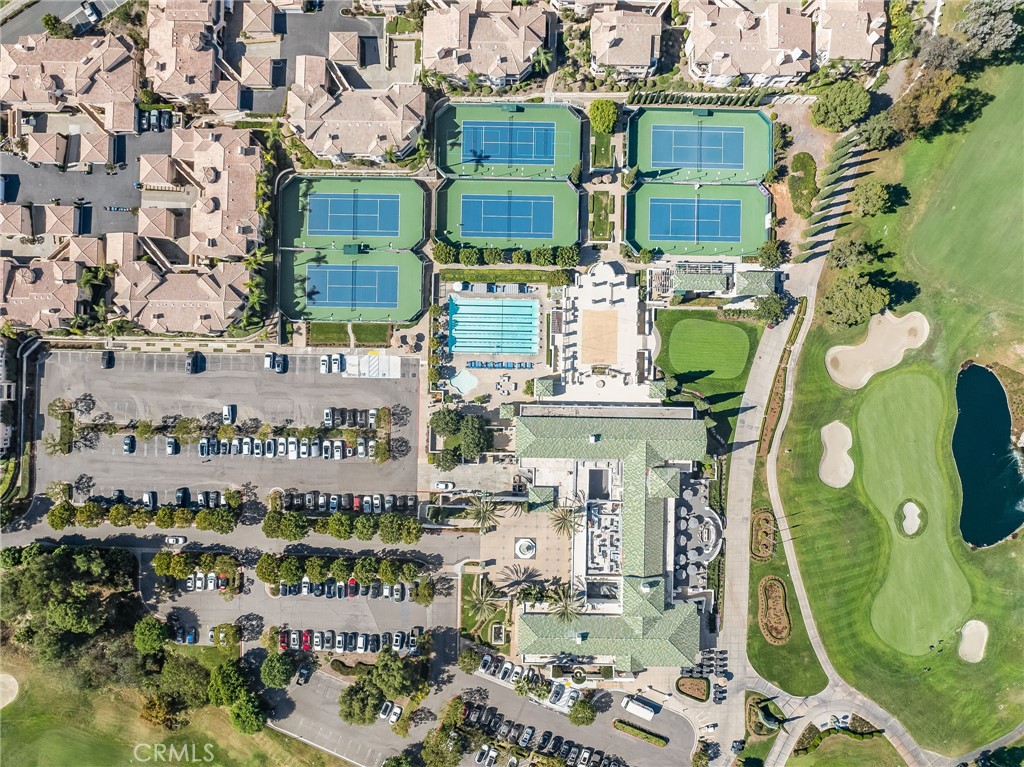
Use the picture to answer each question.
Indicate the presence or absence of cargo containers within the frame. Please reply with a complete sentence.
No, I find no cargo container anywhere in the image.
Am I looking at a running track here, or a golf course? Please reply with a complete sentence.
The one in the frame is a golf course.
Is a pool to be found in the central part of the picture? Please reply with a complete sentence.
Yes, you'll find a pool in the central part of the picture.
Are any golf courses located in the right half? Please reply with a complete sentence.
Yes, I can see a golf course in the right half.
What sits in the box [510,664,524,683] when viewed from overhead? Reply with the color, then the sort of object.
white car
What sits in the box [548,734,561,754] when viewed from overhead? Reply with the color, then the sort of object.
black vehicle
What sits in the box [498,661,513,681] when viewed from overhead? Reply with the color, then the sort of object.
white car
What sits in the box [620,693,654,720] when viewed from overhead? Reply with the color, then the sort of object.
white vehicle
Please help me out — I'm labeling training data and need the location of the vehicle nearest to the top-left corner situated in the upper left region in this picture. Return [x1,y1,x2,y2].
[80,1,100,25]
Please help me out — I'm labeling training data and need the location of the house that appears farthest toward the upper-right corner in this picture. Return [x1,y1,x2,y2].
[812,0,886,79]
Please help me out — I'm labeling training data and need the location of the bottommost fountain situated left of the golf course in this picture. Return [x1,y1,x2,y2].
[516,539,535,558]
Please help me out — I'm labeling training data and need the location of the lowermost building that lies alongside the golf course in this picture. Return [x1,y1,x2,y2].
[516,404,709,675]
